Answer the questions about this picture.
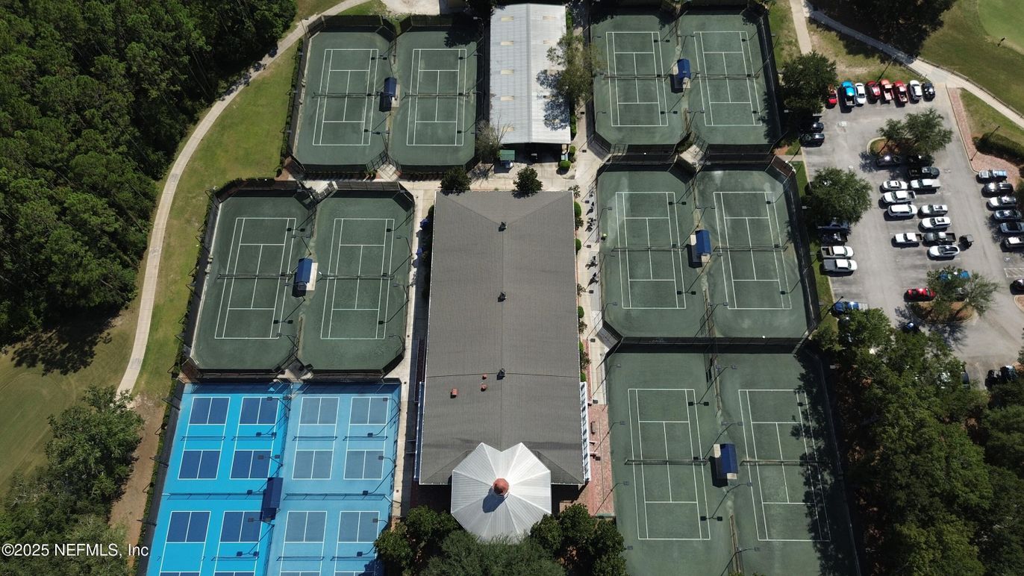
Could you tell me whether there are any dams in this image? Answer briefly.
No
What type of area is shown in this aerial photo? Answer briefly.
sports ground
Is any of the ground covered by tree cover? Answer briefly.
Yes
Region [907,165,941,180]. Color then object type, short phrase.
black vehicle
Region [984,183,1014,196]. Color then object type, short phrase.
black vehicle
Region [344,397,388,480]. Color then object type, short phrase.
blue sports court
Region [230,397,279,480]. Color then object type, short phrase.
blue sports court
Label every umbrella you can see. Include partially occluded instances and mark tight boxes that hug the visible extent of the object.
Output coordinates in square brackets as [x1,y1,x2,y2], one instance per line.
[418,218,431,231]
[413,247,427,260]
